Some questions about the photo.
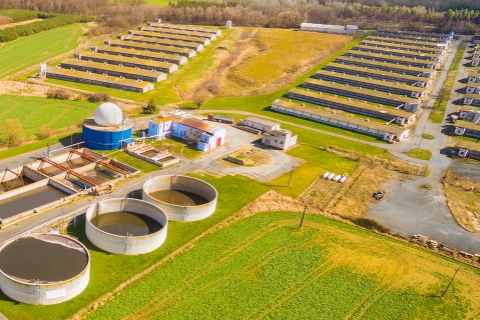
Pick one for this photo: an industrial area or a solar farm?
industrial area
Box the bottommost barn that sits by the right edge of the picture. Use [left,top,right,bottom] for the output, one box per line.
[450,136,480,158]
